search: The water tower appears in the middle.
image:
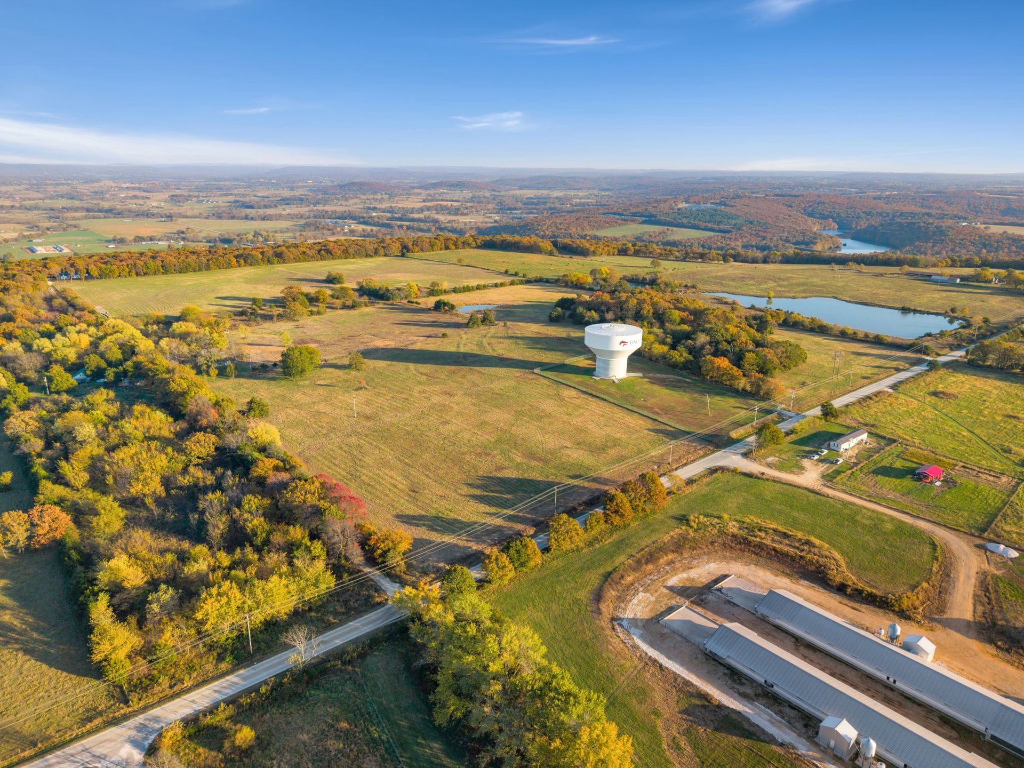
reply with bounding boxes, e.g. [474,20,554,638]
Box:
[584,326,641,380]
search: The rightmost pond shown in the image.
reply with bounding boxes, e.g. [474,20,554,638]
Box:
[707,293,957,339]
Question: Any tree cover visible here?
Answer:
Yes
